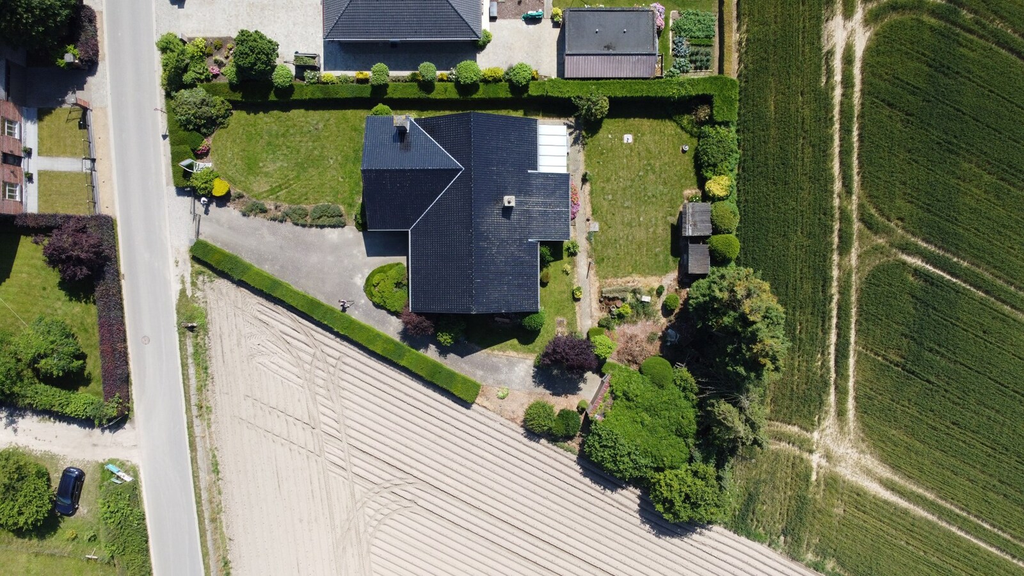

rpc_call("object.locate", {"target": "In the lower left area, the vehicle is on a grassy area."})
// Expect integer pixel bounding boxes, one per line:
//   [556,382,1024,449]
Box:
[52,465,88,519]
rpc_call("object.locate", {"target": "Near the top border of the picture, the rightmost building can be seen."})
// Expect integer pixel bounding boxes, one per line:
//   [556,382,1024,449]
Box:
[564,8,657,80]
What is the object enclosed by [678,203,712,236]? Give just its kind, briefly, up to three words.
shed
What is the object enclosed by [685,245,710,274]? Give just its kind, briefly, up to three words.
shed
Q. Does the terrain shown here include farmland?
Yes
